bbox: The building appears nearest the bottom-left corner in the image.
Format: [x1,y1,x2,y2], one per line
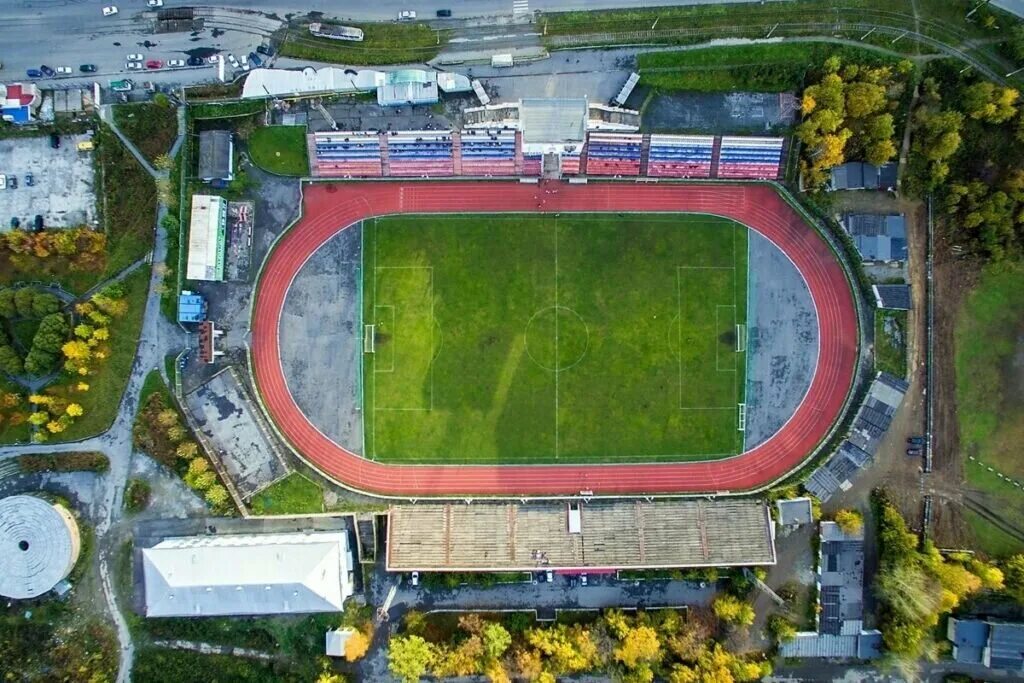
[0,493,81,599]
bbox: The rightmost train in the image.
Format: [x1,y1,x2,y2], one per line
[307,20,360,39]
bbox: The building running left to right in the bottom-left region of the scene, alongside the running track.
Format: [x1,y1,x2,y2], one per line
[142,525,359,617]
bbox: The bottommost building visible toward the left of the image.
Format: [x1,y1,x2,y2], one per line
[326,625,354,658]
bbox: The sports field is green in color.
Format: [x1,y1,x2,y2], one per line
[362,212,747,465]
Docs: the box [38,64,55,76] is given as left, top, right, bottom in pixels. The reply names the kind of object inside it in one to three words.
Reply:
vehicle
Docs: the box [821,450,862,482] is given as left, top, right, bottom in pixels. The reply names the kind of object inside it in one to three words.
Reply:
shed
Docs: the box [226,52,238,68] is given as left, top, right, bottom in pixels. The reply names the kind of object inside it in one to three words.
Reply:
vehicle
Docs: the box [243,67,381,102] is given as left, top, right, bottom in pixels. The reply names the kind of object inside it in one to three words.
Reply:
building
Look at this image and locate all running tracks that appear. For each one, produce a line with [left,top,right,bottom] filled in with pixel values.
[252,180,858,495]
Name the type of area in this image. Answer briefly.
sports ground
